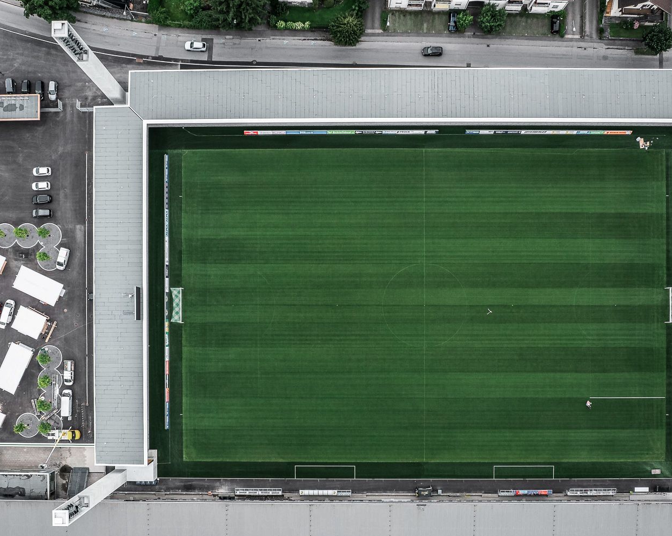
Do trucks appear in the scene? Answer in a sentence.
Yes, the picture does show a truck.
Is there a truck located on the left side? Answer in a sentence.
Yes, a truck can be seen on the left side.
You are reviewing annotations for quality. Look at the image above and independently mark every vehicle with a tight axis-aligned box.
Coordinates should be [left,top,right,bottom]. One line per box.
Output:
[63,360,75,386]
[31,180,51,191]
[0,298,16,329]
[32,166,52,176]
[31,195,53,204]
[32,207,54,218]
[421,45,443,57]
[185,41,206,52]
[18,78,30,94]
[33,79,44,102]
[56,249,70,269]
[46,80,58,102]
[59,391,72,421]
[550,15,562,37]
[39,425,80,469]
[4,76,15,95]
